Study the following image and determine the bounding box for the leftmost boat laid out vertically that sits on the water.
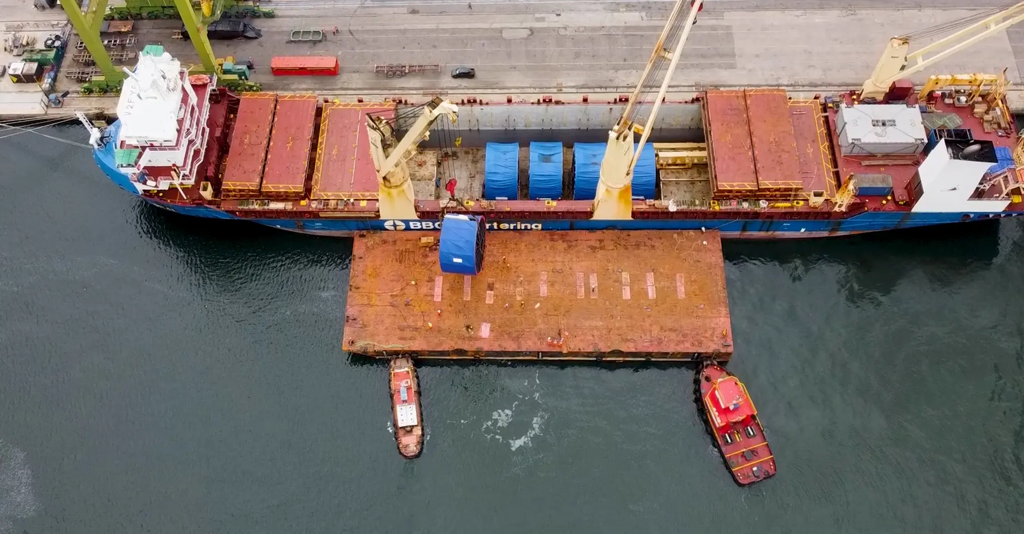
[390,356,424,462]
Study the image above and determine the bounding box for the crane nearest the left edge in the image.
[51,0,288,93]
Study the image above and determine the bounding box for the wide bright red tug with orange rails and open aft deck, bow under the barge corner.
[692,355,781,488]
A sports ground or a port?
port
